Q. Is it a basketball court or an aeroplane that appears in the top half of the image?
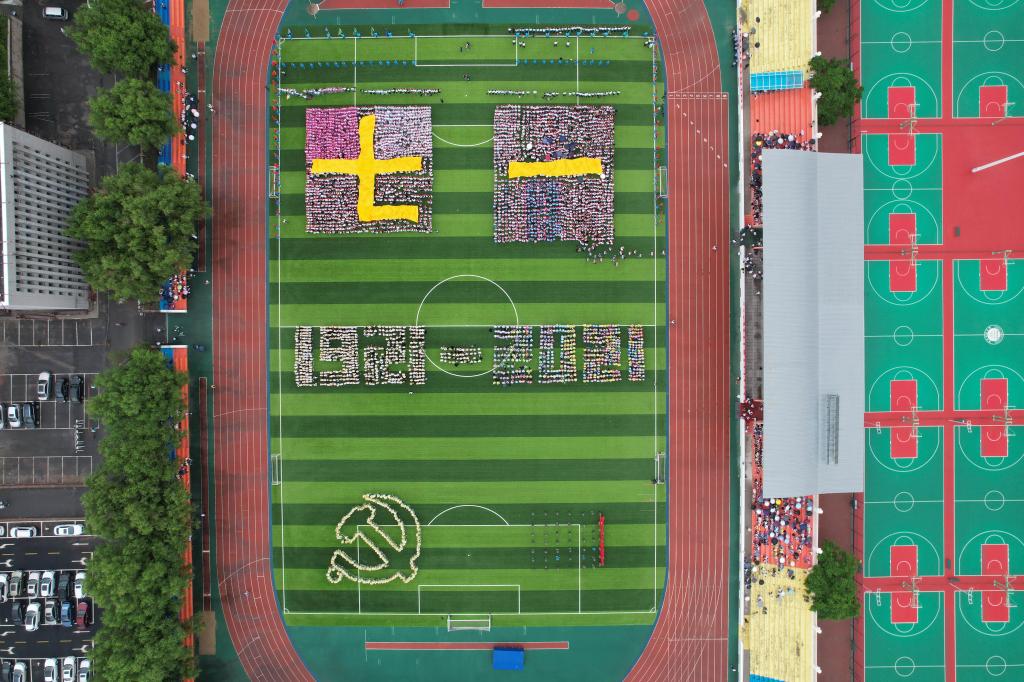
basketball court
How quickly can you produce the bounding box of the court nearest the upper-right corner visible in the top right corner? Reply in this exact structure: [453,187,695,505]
[953,0,1024,118]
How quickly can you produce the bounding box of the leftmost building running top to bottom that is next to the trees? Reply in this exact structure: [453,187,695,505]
[0,121,91,309]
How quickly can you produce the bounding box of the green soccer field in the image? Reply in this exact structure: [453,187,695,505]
[270,24,666,626]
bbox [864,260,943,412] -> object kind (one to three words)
basketball court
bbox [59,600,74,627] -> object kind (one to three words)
car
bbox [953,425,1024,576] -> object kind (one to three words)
basketball court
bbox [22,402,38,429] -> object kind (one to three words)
car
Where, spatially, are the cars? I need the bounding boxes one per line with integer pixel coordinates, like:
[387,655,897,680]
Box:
[68,376,83,403]
[10,525,38,538]
[10,601,25,626]
[25,601,42,632]
[12,660,28,682]
[55,378,69,402]
[8,570,24,598]
[37,373,52,400]
[44,599,59,624]
[41,570,56,599]
[0,573,9,604]
[72,571,87,599]
[54,524,86,536]
[0,659,14,682]
[62,655,77,682]
[57,574,72,601]
[22,402,38,429]
[7,403,22,428]
[26,571,41,599]
[43,657,59,682]
[77,659,92,682]
[75,601,90,630]
[59,600,74,627]
[0,403,7,430]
